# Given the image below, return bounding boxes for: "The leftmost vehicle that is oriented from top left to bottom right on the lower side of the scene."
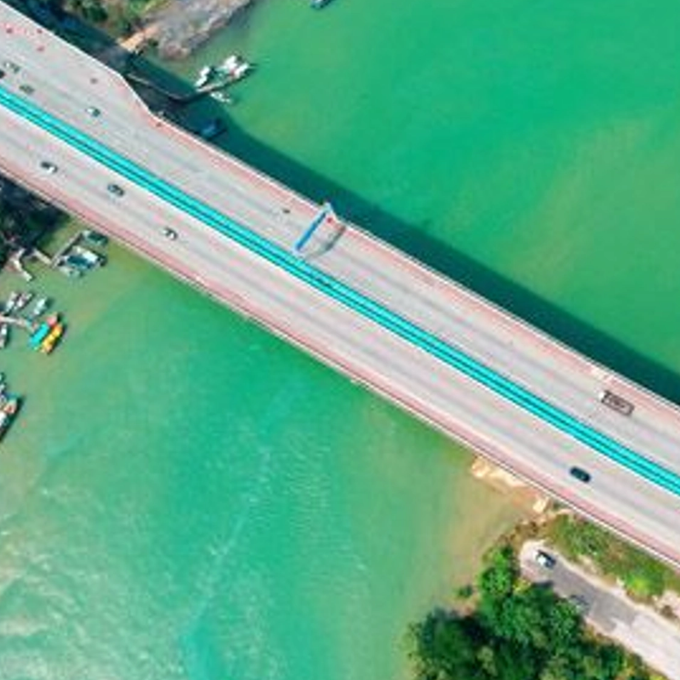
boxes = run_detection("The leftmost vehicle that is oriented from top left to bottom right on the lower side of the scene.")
[534,550,554,567]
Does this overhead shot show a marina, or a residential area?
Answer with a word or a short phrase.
marina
